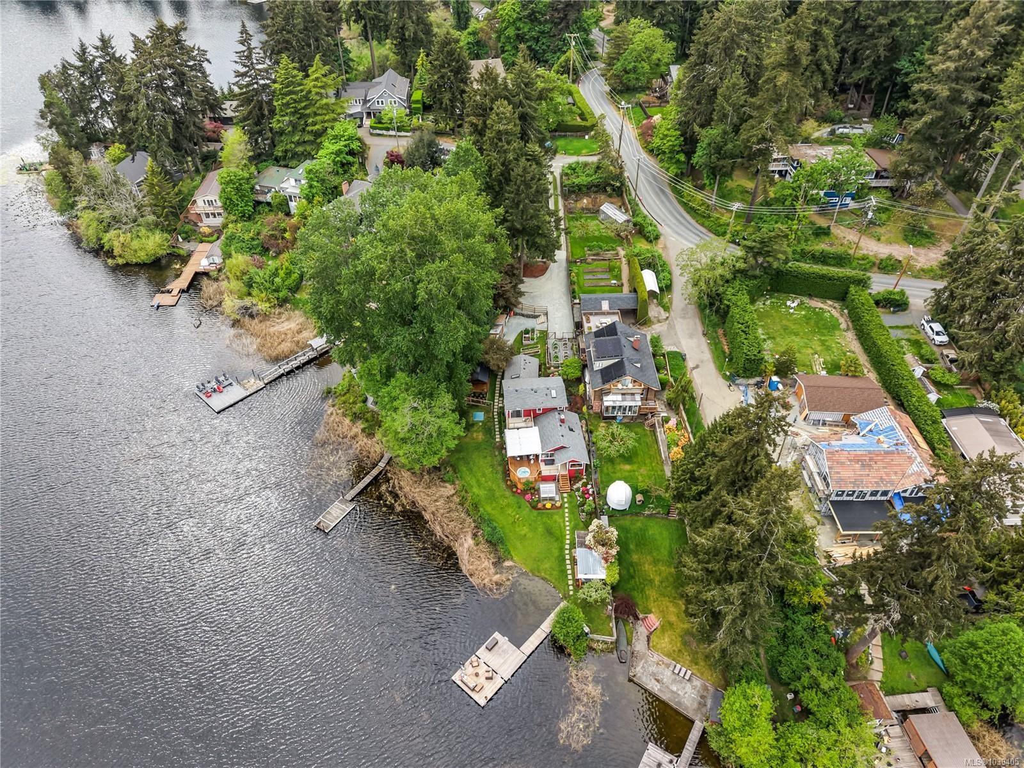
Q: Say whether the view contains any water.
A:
Yes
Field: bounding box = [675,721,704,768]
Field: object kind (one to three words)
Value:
pier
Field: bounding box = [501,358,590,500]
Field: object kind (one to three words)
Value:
house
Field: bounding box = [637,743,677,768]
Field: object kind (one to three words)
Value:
pier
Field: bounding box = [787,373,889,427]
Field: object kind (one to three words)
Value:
building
